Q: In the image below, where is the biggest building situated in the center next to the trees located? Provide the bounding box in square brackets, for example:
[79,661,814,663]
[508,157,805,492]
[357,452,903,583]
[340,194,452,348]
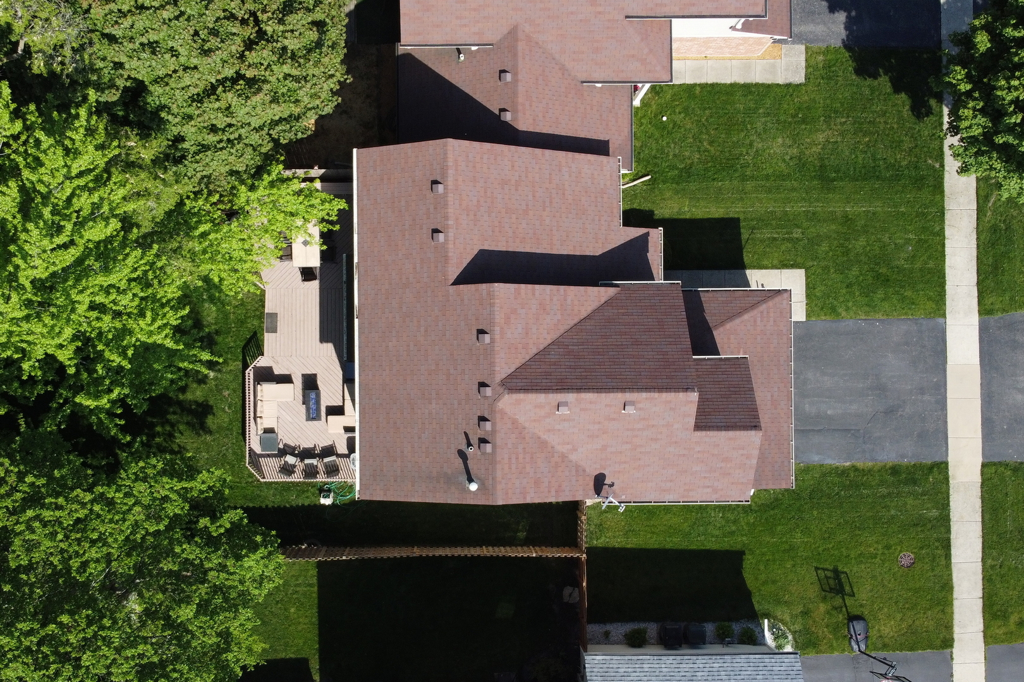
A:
[347,139,795,505]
